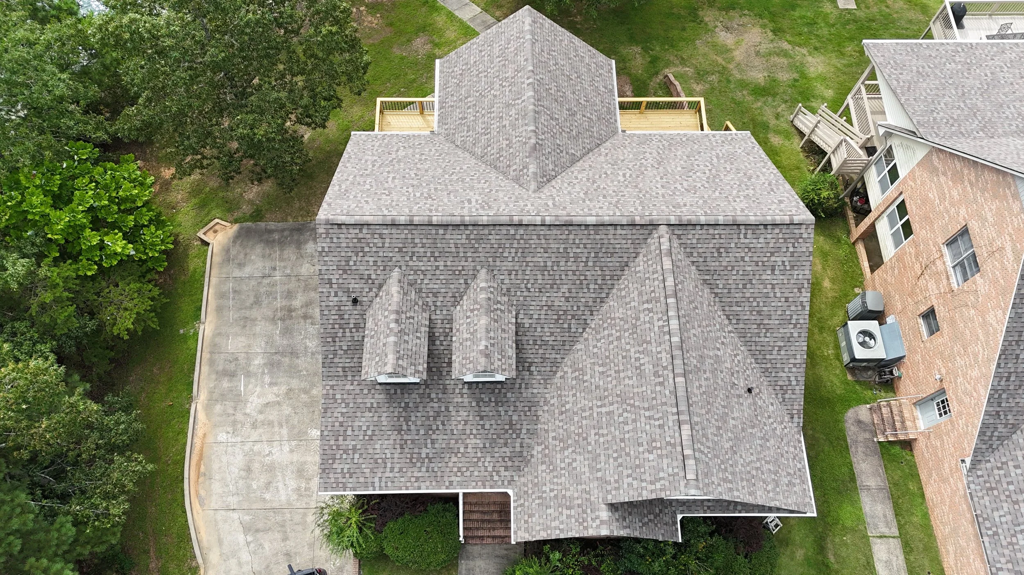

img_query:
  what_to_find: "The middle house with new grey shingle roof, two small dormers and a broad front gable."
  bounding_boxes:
[314,5,820,546]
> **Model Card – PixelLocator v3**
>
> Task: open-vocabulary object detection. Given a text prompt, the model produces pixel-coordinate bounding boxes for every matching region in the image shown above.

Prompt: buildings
[843,39,1024,575]
[314,5,820,546]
